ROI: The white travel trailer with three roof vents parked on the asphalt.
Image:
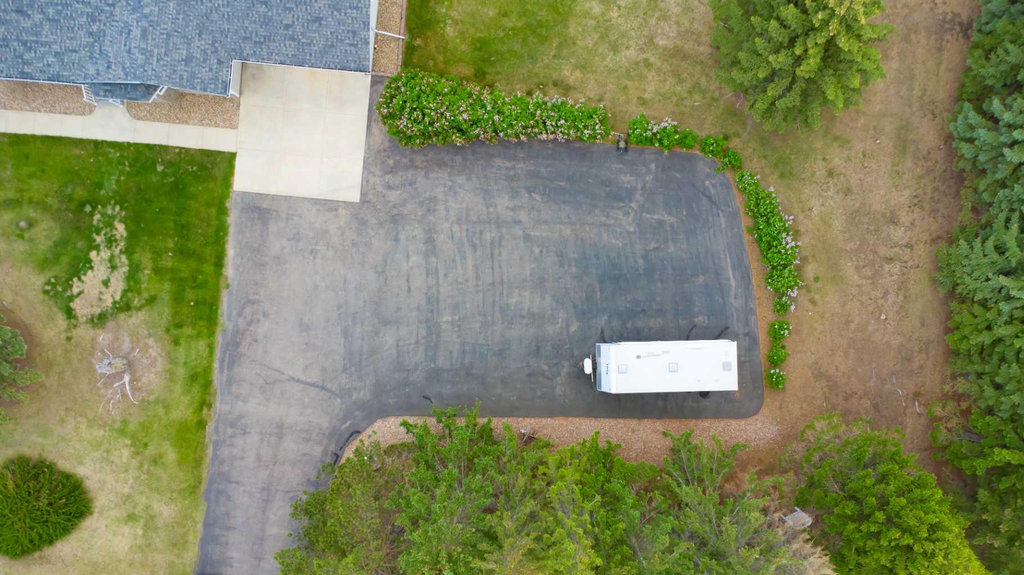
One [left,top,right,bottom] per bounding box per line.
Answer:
[574,337,738,394]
